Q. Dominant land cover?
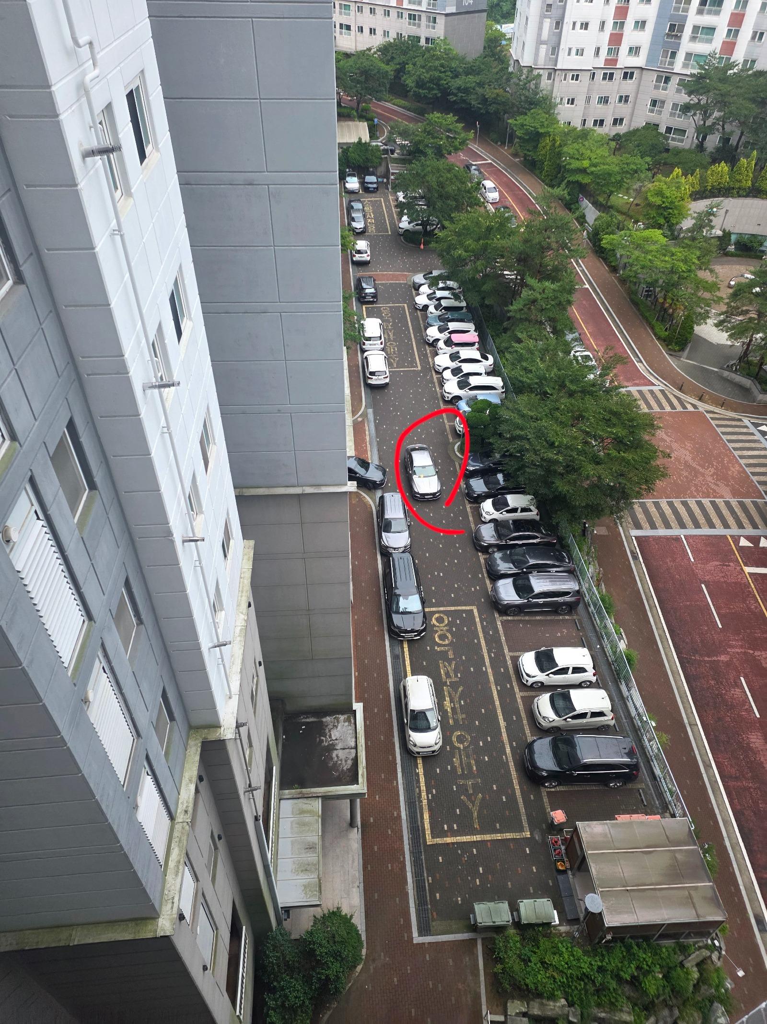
buildings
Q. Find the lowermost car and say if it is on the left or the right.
right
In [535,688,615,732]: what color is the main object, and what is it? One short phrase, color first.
white car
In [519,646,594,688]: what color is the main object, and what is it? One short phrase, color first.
white car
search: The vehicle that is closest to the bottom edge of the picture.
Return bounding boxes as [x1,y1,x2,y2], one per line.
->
[526,730,636,787]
